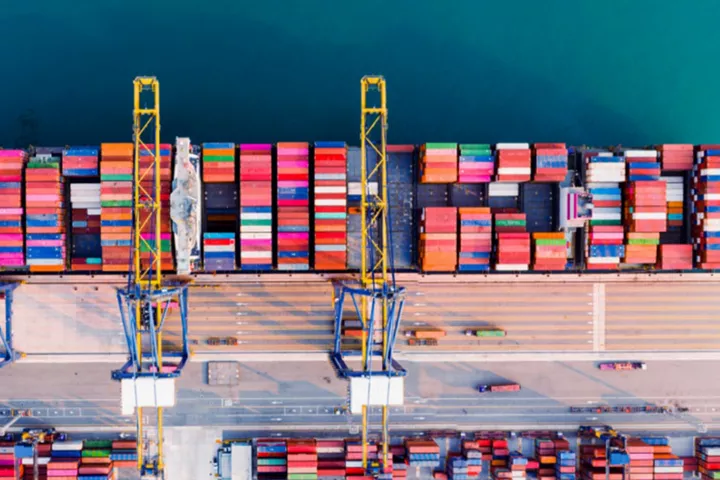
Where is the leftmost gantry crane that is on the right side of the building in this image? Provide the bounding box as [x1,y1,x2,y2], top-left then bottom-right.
[332,74,409,478]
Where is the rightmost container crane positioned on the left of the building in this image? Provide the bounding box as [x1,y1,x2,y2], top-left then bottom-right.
[112,74,195,478]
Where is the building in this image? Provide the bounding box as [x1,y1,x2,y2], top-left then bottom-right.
[220,439,252,480]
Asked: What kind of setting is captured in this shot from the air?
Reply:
port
